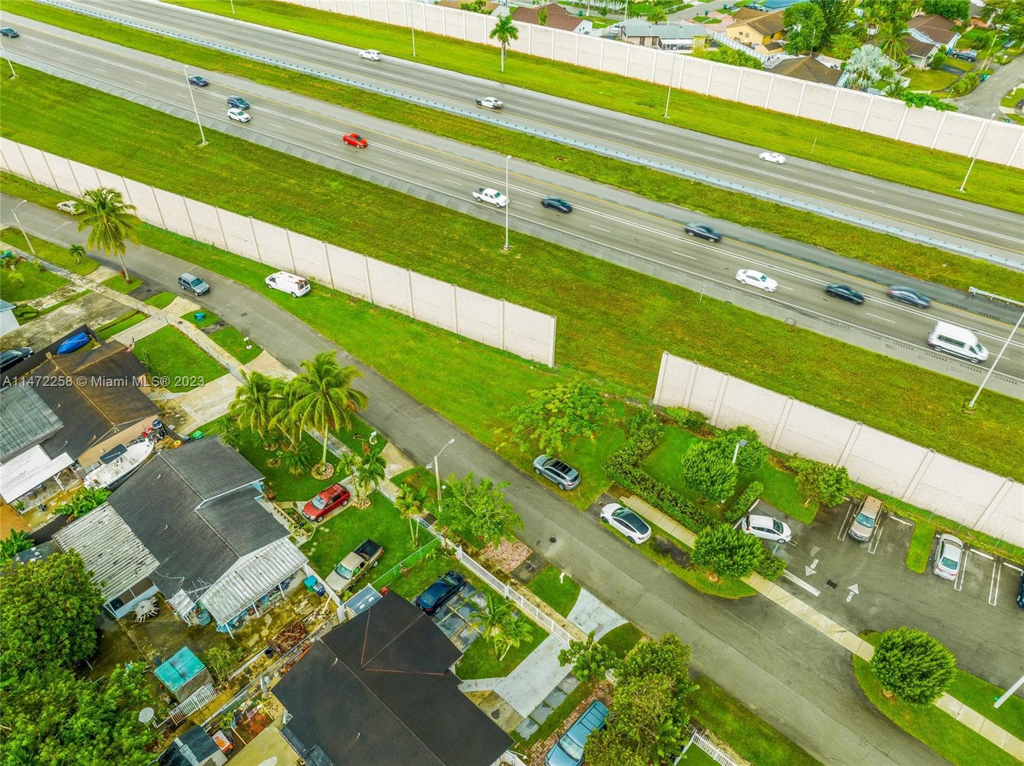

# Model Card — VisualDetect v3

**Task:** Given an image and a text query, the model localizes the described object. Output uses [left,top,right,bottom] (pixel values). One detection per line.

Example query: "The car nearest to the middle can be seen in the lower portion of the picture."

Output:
[529,455,585,490]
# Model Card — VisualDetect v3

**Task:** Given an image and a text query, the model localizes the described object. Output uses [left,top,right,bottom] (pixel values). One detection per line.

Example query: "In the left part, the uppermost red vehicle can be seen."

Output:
[340,134,369,149]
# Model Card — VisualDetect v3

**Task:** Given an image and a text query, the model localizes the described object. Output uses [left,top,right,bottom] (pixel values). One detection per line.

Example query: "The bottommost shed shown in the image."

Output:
[150,725,226,766]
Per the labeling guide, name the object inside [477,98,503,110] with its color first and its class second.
white vehicle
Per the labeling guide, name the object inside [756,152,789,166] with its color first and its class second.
white car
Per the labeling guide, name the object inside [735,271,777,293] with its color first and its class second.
white car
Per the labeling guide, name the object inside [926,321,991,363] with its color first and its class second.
white van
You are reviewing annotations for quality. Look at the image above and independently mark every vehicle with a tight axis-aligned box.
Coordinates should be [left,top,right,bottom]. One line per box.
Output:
[407,566,472,615]
[544,694,612,766]
[735,271,777,293]
[264,271,313,298]
[340,134,369,149]
[186,75,211,88]
[739,513,795,545]
[296,481,356,524]
[477,98,503,110]
[684,224,722,243]
[539,197,574,215]
[845,495,887,543]
[822,284,866,307]
[926,321,991,363]
[471,188,510,208]
[756,152,789,166]
[930,531,967,583]
[0,28,19,38]
[952,49,977,62]
[529,455,585,490]
[359,51,381,61]
[174,270,213,297]
[319,537,392,596]
[596,502,656,546]
[226,108,251,123]
[885,287,931,310]
[225,95,251,110]
[53,200,89,216]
